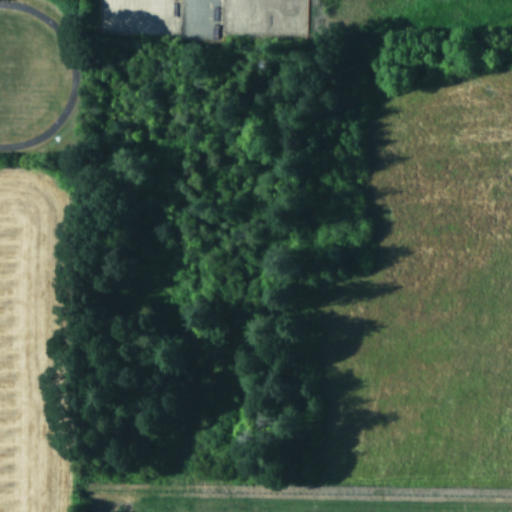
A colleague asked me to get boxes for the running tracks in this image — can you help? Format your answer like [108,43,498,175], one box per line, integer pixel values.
[0,0,80,152]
